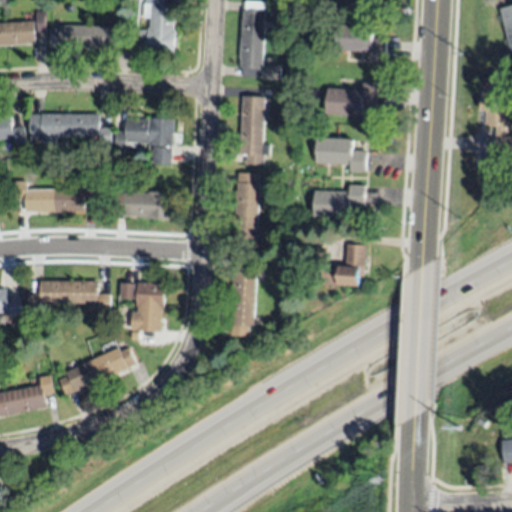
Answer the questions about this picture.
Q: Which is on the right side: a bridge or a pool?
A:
bridge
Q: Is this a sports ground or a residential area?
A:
residential area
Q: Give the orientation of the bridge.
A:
up and down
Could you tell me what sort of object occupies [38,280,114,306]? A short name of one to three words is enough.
house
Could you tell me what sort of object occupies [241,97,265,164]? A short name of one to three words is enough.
building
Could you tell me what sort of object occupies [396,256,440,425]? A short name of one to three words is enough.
bridge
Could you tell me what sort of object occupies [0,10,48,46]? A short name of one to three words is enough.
house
